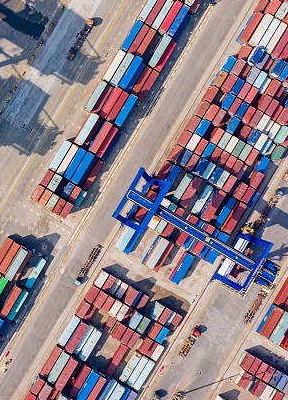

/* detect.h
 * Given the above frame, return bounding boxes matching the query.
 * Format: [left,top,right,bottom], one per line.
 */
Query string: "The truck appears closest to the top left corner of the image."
[69,15,96,55]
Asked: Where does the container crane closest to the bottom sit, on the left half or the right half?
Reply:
right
